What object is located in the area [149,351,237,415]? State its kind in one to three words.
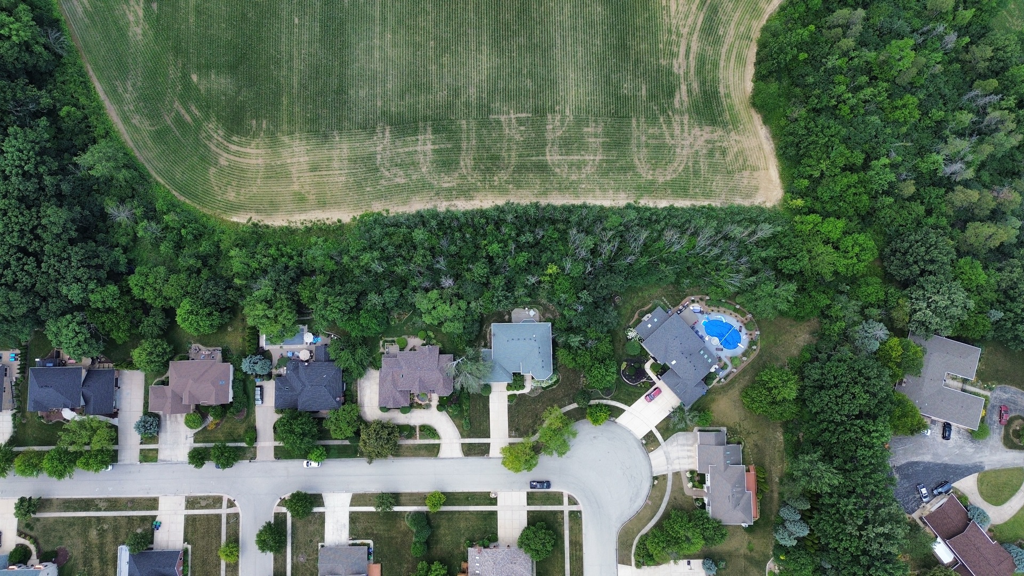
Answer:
house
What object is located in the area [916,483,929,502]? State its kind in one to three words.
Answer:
vehicle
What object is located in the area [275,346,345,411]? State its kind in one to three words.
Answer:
house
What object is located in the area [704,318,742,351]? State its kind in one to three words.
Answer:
swimming pool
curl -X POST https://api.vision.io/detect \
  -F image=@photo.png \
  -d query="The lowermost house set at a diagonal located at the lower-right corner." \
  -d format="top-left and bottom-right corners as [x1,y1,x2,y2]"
[914,491,1022,576]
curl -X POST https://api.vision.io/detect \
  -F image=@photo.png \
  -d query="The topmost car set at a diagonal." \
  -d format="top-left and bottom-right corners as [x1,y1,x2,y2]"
[644,386,662,402]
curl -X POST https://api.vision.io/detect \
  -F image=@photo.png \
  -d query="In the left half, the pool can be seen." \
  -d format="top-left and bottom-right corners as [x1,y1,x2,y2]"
[265,326,305,346]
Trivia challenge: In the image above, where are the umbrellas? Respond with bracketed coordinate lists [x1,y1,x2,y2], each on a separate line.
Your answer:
[299,349,310,360]
[304,333,313,342]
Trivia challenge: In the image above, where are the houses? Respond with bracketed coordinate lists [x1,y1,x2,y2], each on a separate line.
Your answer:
[891,331,986,429]
[122,545,190,576]
[275,346,345,411]
[149,351,237,415]
[914,491,1022,576]
[0,364,16,412]
[482,319,553,383]
[694,430,753,527]
[27,357,124,414]
[318,541,370,576]
[633,306,719,406]
[0,549,69,576]
[378,345,454,409]
[467,543,532,576]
